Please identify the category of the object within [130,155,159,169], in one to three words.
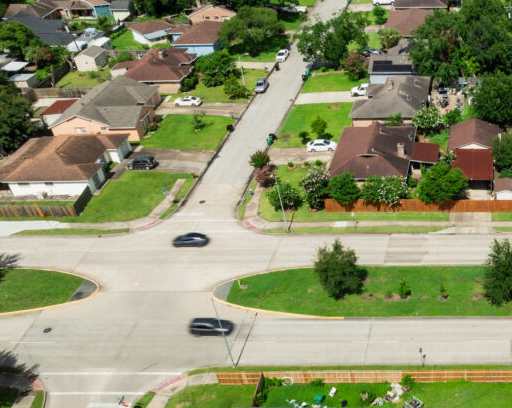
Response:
car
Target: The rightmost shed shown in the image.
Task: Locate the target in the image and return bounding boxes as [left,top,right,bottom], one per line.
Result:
[494,179,512,201]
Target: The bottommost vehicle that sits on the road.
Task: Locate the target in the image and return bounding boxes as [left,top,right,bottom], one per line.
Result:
[188,315,234,335]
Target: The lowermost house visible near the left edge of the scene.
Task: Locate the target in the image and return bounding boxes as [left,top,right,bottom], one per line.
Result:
[0,133,148,195]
